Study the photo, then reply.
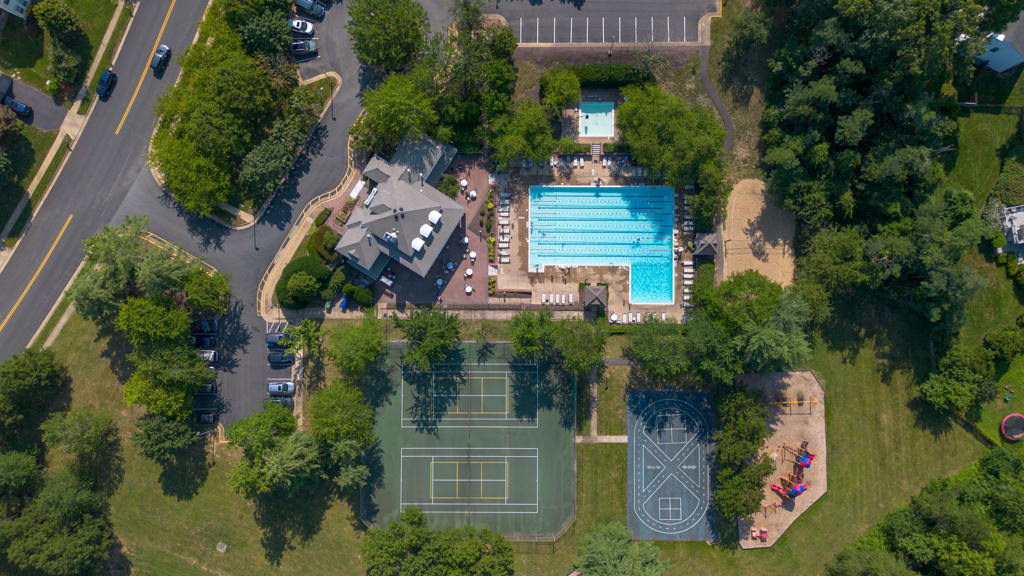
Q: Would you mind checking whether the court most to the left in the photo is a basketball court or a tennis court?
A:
tennis court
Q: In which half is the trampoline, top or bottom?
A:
bottom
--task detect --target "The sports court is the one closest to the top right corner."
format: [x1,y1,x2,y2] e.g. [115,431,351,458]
[723,179,797,290]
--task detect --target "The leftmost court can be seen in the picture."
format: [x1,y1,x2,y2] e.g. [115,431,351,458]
[366,342,575,536]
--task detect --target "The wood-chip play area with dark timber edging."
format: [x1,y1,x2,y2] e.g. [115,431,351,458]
[735,369,828,550]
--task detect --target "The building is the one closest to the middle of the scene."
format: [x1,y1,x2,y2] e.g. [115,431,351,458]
[584,285,608,307]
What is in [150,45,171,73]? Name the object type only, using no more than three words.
car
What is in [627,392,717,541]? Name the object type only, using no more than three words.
sports court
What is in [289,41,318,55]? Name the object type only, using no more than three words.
car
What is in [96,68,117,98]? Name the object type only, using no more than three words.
vehicle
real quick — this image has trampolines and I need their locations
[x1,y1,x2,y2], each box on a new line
[1000,414,1024,441]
